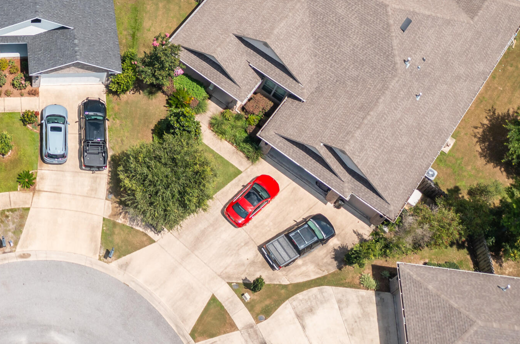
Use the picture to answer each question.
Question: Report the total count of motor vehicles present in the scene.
4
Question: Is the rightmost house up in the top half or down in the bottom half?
bottom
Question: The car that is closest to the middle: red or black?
red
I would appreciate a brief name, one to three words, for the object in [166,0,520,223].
house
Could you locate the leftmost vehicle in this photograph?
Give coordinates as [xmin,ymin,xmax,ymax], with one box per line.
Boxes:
[40,104,72,165]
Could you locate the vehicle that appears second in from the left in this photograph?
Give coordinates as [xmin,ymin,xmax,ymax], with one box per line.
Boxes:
[80,93,111,173]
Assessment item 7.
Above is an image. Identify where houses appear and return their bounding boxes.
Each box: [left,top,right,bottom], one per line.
[391,260,520,344]
[166,0,520,223]
[0,0,122,86]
